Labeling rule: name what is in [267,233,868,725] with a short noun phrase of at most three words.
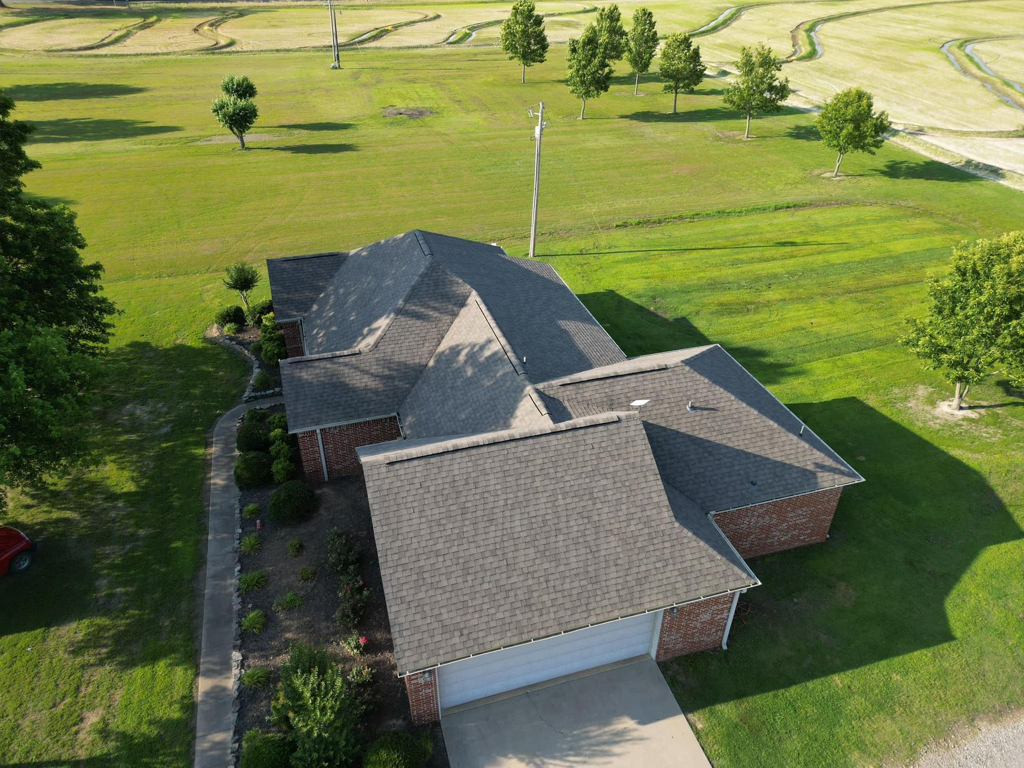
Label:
house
